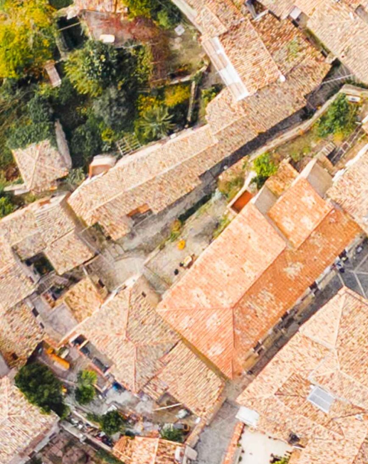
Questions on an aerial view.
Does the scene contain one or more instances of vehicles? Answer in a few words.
No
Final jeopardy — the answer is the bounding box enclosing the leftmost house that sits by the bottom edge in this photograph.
[0,374,60,464]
